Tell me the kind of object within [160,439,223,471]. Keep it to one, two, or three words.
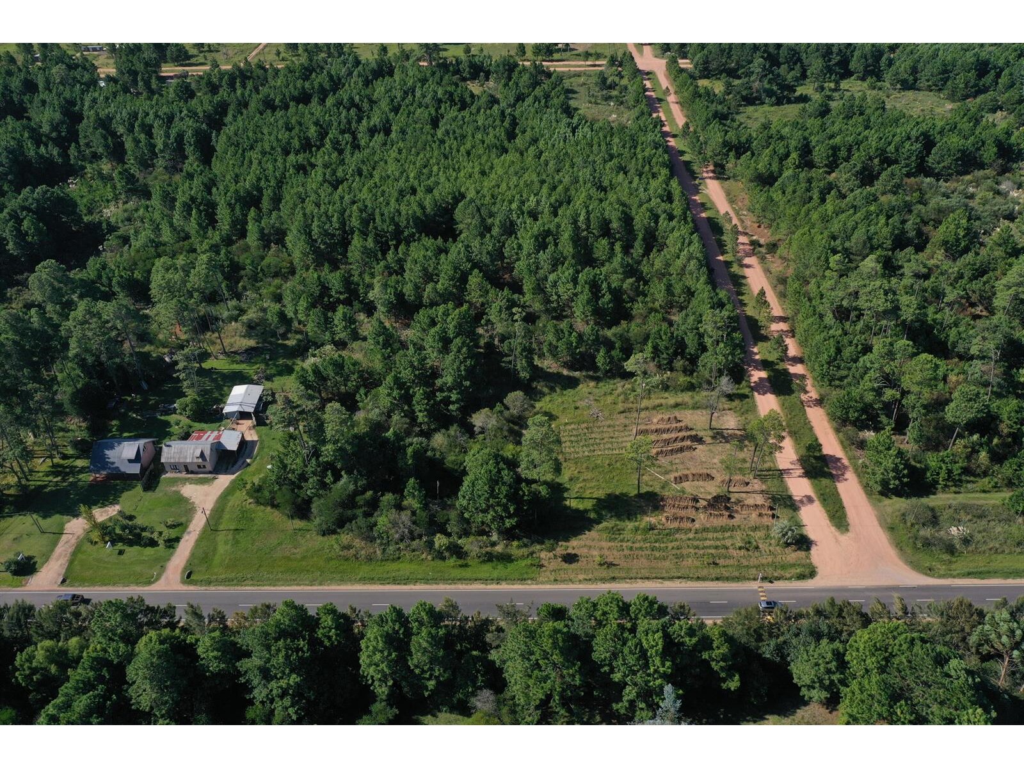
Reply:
house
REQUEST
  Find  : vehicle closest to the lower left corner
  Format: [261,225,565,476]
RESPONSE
[53,593,87,607]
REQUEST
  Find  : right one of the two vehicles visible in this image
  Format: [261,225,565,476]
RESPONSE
[755,600,783,613]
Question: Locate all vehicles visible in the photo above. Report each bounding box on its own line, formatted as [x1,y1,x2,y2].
[755,600,783,613]
[53,593,87,607]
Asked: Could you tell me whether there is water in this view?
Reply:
No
